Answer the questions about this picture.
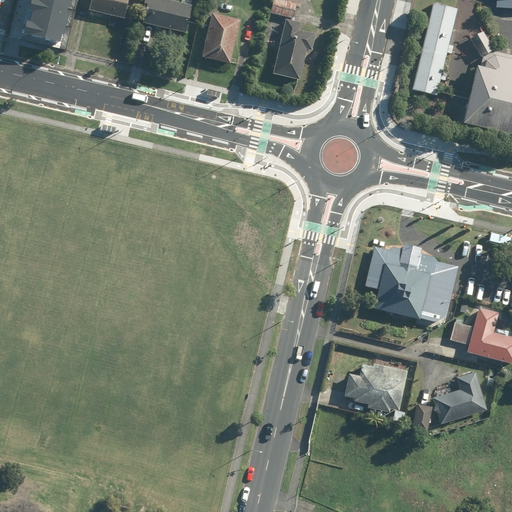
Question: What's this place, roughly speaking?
sports ground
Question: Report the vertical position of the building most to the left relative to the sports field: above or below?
above it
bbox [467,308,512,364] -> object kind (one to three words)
house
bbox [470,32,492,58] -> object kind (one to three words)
shed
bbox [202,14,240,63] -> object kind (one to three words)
house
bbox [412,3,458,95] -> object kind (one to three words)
building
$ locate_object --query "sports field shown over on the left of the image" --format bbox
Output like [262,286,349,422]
[0,118,291,512]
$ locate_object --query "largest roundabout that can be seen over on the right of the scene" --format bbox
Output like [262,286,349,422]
[320,136,360,176]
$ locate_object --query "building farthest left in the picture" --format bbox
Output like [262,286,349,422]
[22,0,80,48]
